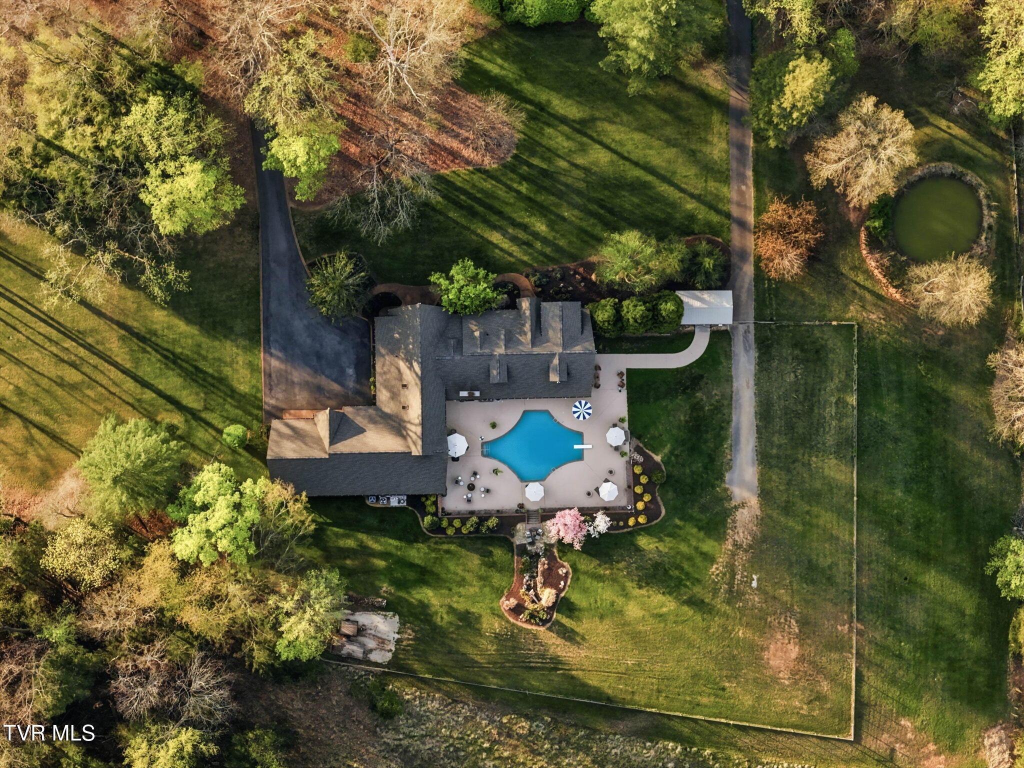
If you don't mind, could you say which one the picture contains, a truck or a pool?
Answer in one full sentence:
The image shows a pool.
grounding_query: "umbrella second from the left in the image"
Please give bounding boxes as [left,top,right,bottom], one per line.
[525,482,543,500]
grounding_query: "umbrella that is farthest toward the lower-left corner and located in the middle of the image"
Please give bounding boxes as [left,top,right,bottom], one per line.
[448,432,469,456]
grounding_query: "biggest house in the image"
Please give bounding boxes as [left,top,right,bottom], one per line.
[267,298,597,497]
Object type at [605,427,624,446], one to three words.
umbrella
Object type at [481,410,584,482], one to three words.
swimming pool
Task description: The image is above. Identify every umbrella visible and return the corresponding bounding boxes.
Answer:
[525,482,543,500]
[571,400,591,420]
[605,427,624,446]
[598,481,617,500]
[448,432,469,456]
